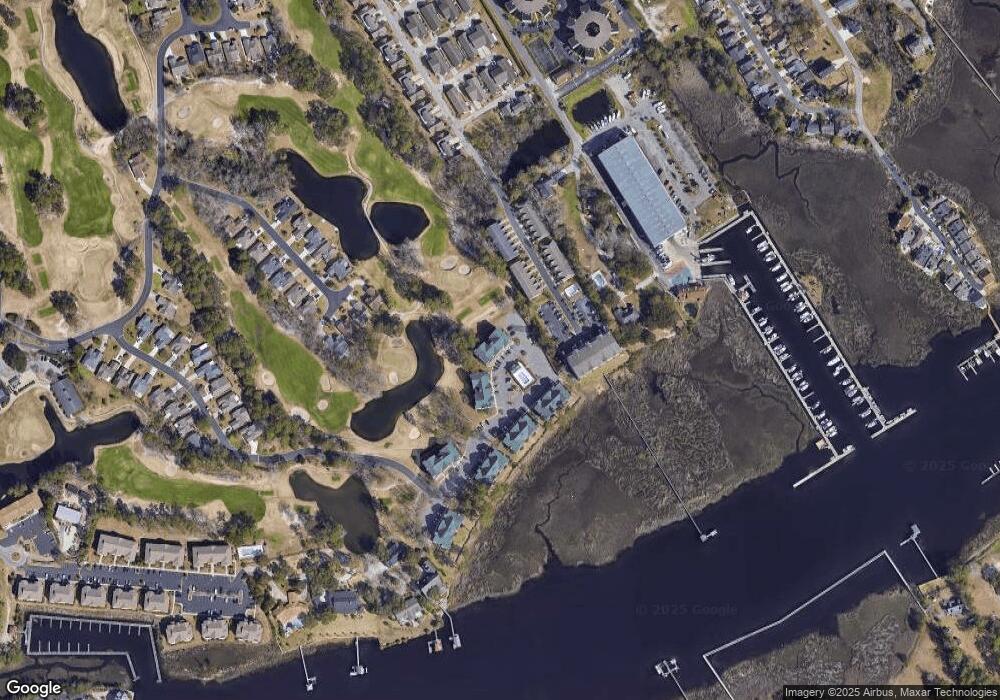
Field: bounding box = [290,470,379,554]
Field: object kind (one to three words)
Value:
pond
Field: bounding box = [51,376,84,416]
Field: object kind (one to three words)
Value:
building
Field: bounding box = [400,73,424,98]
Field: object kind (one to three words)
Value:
house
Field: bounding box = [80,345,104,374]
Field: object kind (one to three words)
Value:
house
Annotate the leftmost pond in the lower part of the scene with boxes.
[0,396,139,508]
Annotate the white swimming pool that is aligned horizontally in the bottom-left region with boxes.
[238,545,264,558]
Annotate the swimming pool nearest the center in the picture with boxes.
[514,366,535,388]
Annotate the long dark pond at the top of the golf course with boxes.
[53,0,128,134]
